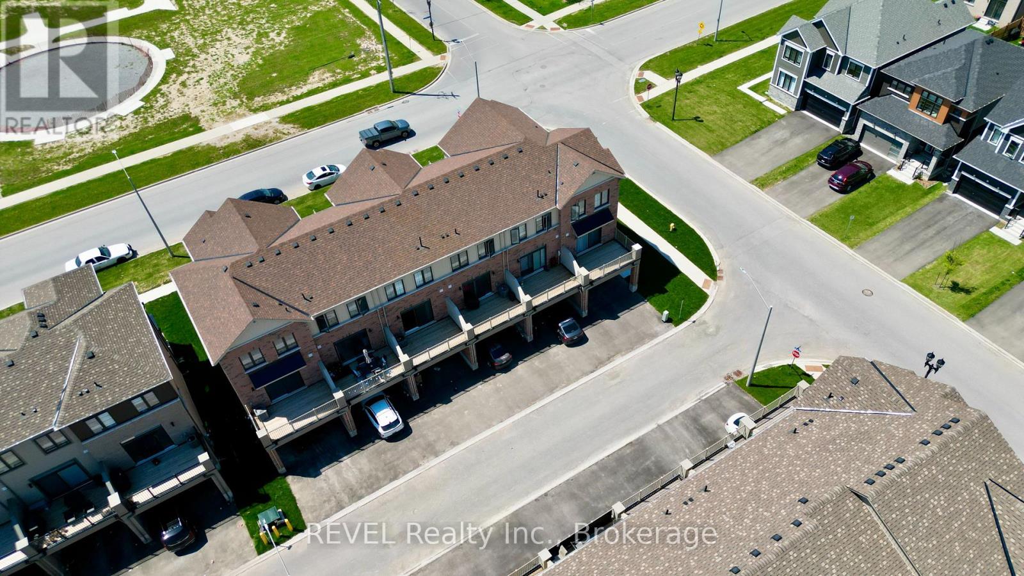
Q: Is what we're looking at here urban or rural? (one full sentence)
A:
From above, the setting appears urban.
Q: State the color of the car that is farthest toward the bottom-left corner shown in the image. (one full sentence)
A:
The color of the car that is farthest toward the bottom-left corner is black.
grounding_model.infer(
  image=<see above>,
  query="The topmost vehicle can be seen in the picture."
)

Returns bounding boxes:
[355,115,415,144]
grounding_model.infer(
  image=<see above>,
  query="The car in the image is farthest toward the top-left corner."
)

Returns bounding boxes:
[62,240,133,273]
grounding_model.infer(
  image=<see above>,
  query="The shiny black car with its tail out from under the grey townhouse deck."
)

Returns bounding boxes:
[148,493,195,553]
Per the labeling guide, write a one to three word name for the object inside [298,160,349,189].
car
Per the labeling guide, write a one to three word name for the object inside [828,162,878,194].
car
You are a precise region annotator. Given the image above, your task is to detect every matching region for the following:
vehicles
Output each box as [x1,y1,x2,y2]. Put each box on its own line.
[815,140,865,170]
[234,184,286,203]
[719,409,756,438]
[148,493,195,553]
[477,333,515,369]
[298,160,349,189]
[355,115,415,144]
[62,240,133,273]
[359,390,406,436]
[535,302,585,344]
[828,162,878,194]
